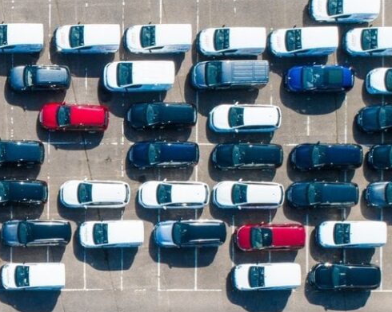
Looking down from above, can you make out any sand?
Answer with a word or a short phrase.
No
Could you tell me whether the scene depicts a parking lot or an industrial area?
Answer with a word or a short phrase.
parking lot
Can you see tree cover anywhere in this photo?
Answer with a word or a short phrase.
No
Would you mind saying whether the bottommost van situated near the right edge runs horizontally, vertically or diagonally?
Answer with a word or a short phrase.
horizontally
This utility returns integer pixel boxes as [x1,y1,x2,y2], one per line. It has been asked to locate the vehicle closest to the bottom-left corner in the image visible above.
[1,261,66,293]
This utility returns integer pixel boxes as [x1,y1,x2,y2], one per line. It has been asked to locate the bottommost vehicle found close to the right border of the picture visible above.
[315,216,387,251]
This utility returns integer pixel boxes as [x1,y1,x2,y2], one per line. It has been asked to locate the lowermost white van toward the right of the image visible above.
[230,261,301,295]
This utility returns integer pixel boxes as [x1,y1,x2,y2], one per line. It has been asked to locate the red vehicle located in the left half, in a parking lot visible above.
[40,99,110,134]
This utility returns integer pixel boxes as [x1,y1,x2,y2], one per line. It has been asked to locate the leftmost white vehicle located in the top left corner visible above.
[0,23,44,55]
